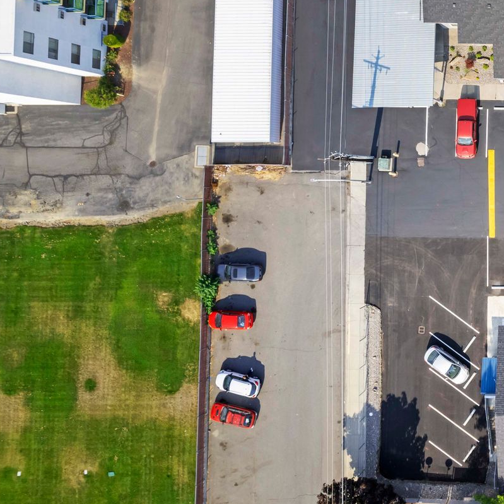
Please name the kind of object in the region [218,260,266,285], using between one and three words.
car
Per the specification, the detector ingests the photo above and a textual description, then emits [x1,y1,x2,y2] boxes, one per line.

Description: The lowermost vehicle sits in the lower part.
[211,400,260,429]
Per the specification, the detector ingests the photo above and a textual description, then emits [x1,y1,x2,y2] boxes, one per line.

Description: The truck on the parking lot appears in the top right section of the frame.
[453,97,479,159]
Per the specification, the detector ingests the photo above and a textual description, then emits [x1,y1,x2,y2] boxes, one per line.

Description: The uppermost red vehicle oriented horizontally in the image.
[208,309,258,334]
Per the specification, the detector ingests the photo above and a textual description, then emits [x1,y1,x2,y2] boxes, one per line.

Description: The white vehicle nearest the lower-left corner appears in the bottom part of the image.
[215,369,264,399]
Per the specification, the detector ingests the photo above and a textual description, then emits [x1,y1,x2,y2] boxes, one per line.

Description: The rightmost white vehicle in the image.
[424,344,471,385]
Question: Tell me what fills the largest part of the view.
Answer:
paved ground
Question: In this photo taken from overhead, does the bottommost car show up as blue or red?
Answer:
red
